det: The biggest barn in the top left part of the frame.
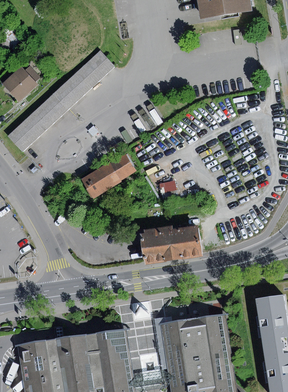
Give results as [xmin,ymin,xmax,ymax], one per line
[7,51,114,152]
